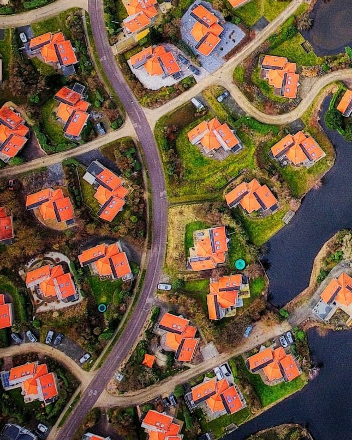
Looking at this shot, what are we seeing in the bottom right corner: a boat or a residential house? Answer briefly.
residential house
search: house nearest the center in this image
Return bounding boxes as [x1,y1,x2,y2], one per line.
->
[189,217,228,268]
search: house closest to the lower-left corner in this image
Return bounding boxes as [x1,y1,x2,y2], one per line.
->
[2,411,41,440]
